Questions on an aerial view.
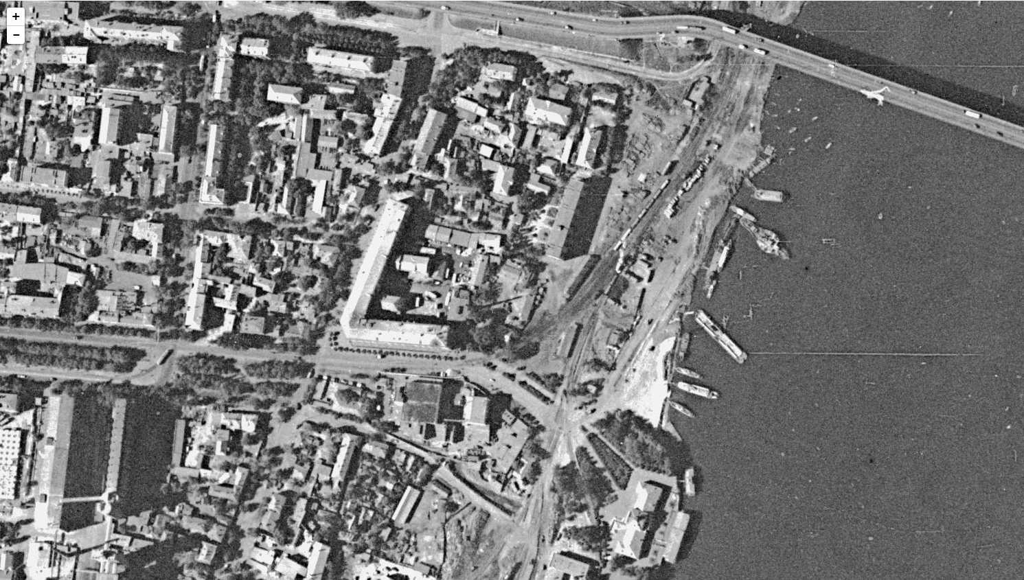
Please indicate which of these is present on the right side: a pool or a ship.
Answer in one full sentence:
The one visible on the right side is a ship.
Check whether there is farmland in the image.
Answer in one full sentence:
No, there is no farmland in the image.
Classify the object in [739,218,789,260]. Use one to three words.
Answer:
ship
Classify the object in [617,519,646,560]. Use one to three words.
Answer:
building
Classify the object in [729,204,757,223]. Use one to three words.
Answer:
boat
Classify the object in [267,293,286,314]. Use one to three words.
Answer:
house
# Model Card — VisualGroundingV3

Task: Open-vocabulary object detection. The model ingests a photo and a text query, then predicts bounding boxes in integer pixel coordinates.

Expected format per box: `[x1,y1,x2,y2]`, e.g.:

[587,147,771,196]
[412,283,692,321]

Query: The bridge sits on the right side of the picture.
[719,24,1024,149]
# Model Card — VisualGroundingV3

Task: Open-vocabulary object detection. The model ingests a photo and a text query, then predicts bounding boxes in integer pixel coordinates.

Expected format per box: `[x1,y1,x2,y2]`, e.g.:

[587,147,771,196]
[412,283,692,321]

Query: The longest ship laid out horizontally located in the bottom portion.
[677,383,719,399]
